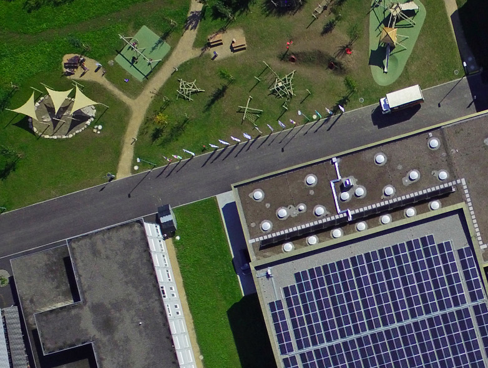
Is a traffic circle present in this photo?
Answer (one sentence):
No, no traffic circle can be seen from above.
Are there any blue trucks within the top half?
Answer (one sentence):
No, there's no blue truck to be seen within the top half.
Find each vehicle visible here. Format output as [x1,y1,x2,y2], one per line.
[378,84,426,114]
[236,250,253,277]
